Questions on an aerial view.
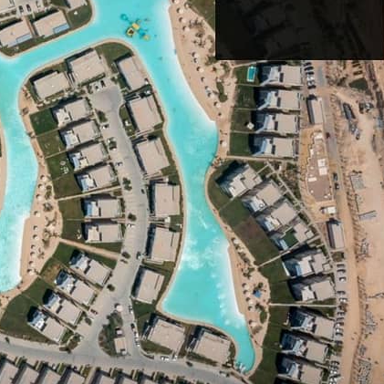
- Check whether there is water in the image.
Yes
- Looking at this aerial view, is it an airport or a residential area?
residential area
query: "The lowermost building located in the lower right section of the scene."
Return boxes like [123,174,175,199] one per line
[278,359,323,384]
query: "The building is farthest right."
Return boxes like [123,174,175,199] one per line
[325,219,343,250]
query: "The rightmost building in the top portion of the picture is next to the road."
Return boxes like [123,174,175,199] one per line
[305,99,323,125]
